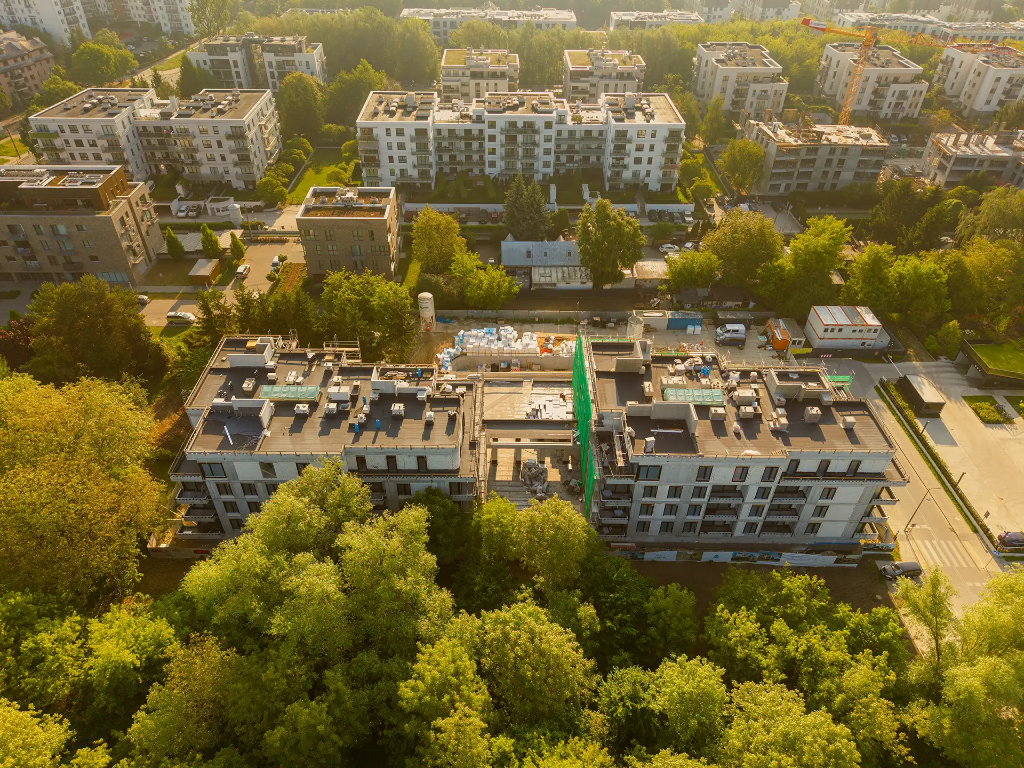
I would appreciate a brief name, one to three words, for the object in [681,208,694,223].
vehicle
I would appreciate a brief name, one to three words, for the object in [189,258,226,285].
shed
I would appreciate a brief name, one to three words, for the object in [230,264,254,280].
car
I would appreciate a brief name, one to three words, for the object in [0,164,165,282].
building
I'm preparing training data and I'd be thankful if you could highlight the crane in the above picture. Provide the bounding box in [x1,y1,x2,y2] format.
[774,25,1024,127]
